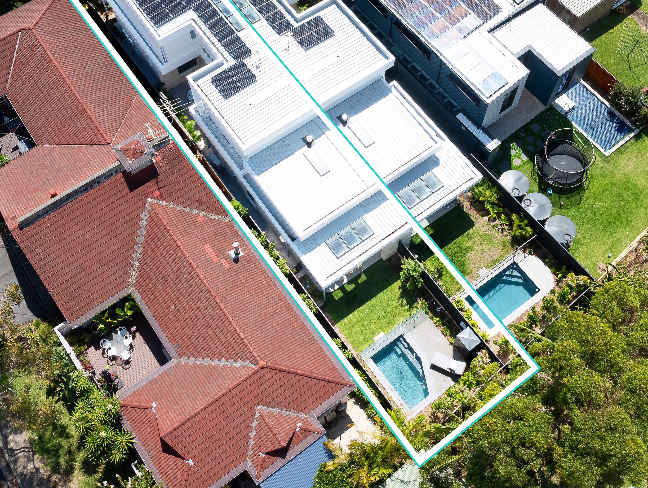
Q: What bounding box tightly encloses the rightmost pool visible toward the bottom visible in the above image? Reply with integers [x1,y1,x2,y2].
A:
[457,255,547,335]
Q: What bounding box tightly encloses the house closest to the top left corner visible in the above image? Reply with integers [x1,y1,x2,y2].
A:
[0,0,172,231]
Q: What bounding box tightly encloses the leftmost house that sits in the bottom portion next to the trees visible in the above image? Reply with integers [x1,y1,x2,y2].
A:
[20,140,355,488]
